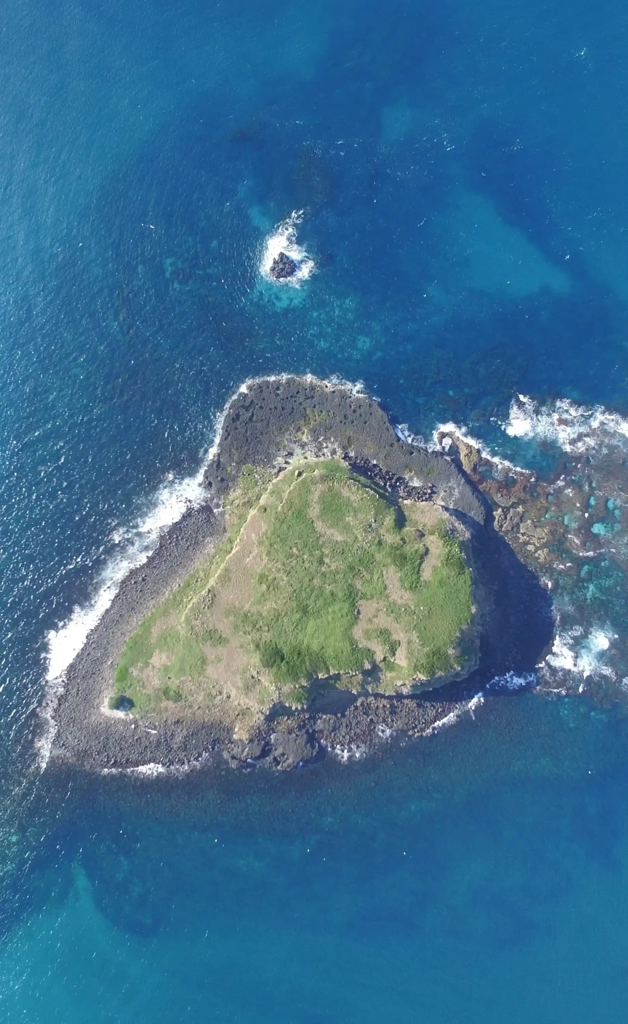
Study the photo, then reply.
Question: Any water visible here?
Yes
